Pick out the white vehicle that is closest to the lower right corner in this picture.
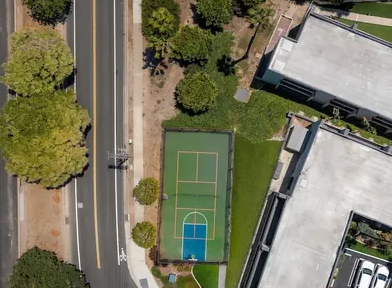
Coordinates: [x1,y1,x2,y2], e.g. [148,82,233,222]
[371,265,390,288]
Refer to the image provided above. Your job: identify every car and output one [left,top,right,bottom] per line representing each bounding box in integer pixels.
[354,260,376,288]
[371,265,390,288]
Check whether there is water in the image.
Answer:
No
